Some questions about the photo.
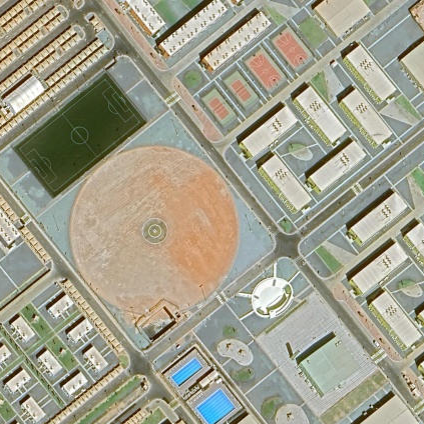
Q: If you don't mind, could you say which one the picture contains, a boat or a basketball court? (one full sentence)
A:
This aerial view contains a basketball court.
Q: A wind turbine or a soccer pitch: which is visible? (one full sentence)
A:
Looking from above, you can make out a soccer pitch.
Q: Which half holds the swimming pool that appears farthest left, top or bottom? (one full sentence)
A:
Seen from above, the swimming pool that appears farthest left lies in the bottom half of the view.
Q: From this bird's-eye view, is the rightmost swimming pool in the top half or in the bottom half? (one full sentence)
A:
Seen from above, the rightmost swimming pool lies in the bottom half of the view.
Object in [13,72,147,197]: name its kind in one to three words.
soccer field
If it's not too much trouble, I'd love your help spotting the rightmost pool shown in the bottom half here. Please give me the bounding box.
[189,382,240,424]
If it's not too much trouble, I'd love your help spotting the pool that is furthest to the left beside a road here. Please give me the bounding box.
[165,351,208,393]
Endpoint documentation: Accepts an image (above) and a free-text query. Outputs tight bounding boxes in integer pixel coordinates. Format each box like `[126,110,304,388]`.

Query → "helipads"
[143,218,168,244]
